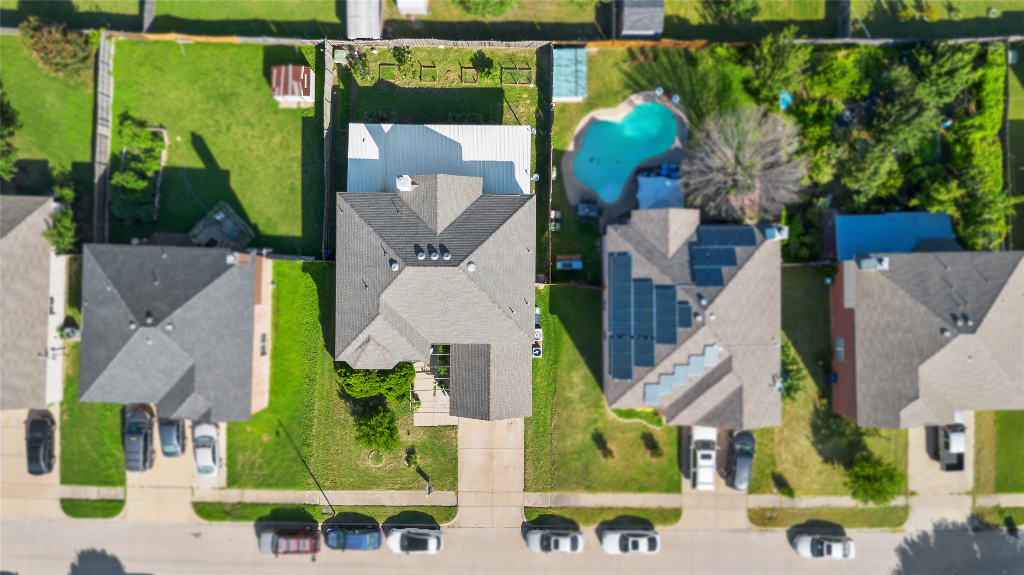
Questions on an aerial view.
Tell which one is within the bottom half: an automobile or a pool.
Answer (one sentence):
You can see an automobile within the bottom half.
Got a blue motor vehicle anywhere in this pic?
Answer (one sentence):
Yes, you can see a blue motor vehicle in this photo.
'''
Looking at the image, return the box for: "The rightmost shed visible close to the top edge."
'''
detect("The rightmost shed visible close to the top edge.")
[618,0,664,40]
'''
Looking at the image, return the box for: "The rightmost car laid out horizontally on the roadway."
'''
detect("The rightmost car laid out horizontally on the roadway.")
[791,530,854,558]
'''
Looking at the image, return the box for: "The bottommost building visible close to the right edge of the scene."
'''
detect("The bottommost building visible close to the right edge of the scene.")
[830,242,1024,434]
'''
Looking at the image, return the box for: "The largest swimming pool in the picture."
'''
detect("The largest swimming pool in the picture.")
[573,103,675,203]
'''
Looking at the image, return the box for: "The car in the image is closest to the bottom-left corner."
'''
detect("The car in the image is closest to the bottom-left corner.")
[24,412,58,472]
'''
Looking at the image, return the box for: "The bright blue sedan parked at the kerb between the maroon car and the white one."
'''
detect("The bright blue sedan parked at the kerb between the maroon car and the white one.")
[327,525,382,552]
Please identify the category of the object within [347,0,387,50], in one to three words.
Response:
shed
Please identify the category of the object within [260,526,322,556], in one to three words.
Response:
car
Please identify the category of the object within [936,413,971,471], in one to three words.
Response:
truck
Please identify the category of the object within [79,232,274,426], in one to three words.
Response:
house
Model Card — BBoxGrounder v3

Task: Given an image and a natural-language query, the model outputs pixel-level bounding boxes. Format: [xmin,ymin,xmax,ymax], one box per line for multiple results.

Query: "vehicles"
[726,432,756,488]
[791,530,854,558]
[327,525,382,552]
[192,422,223,479]
[24,412,58,472]
[691,426,720,490]
[158,418,188,455]
[387,525,443,554]
[526,526,583,554]
[123,405,156,467]
[601,527,660,555]
[260,526,322,556]
[936,413,971,471]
